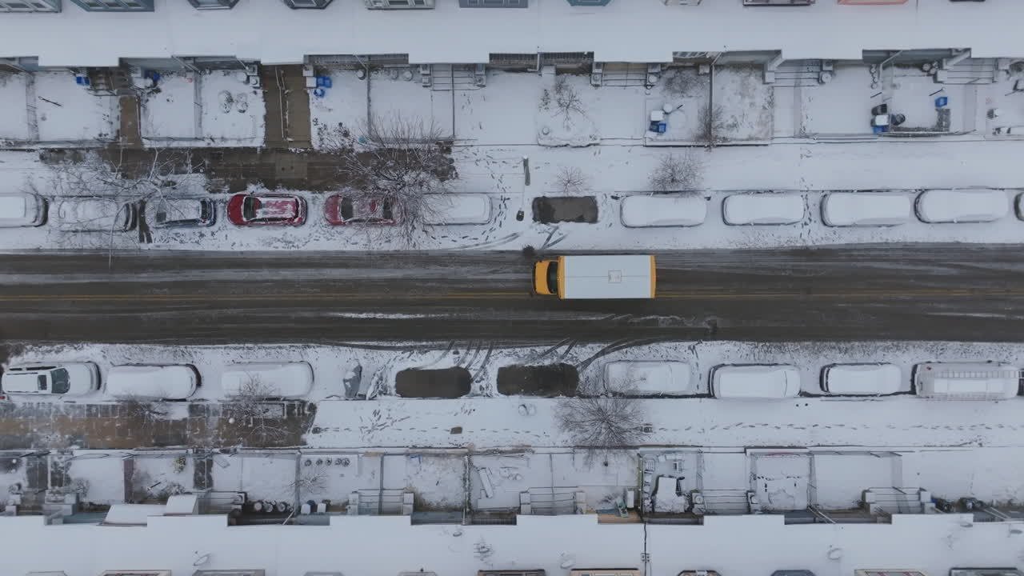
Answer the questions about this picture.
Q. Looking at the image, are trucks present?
Yes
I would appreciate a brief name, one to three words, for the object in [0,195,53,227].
car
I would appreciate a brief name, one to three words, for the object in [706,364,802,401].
car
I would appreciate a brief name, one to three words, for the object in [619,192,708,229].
vehicle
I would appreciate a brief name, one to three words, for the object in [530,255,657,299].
truck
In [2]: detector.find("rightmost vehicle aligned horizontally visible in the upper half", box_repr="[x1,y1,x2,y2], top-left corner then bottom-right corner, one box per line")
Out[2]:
[911,188,1012,225]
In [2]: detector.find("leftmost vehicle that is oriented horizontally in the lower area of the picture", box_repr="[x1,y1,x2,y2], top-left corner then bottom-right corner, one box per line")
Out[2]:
[0,362,105,401]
